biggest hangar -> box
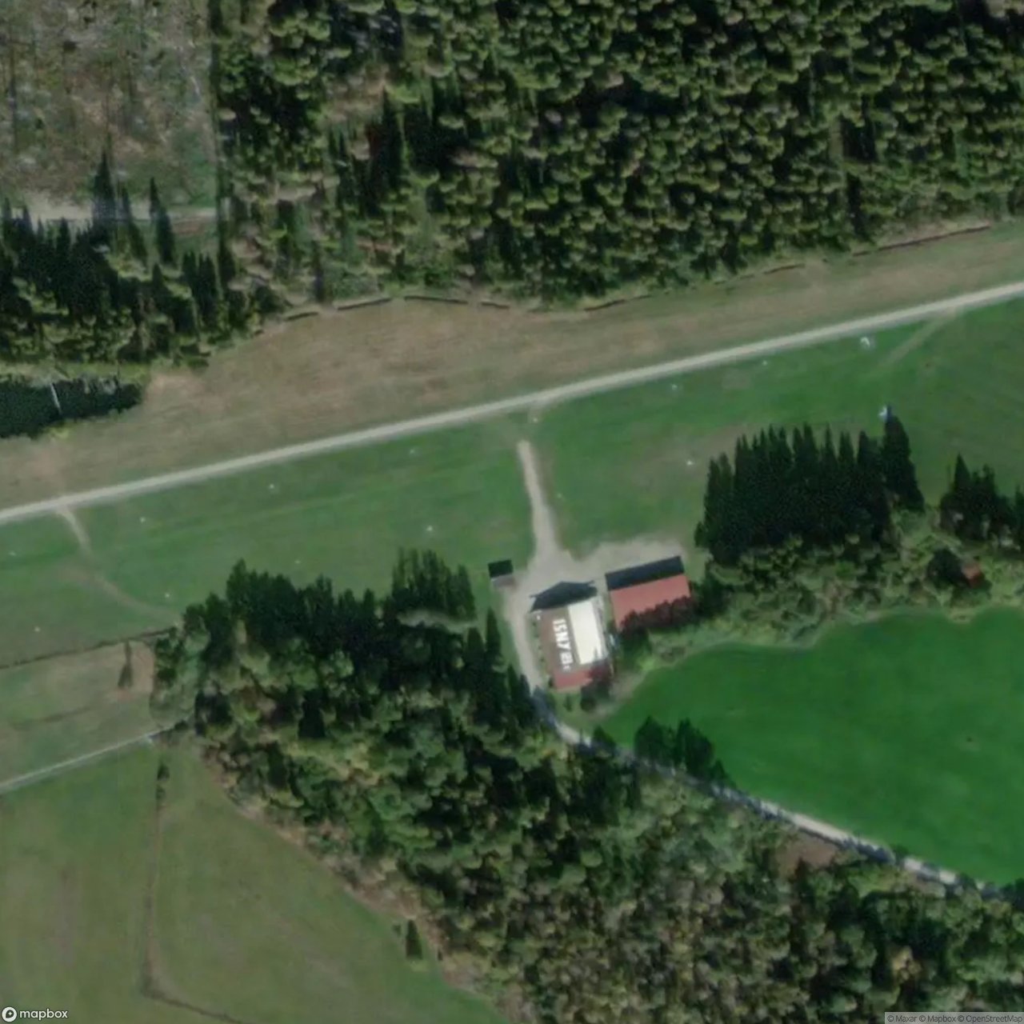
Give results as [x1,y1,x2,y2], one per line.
[534,596,616,691]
